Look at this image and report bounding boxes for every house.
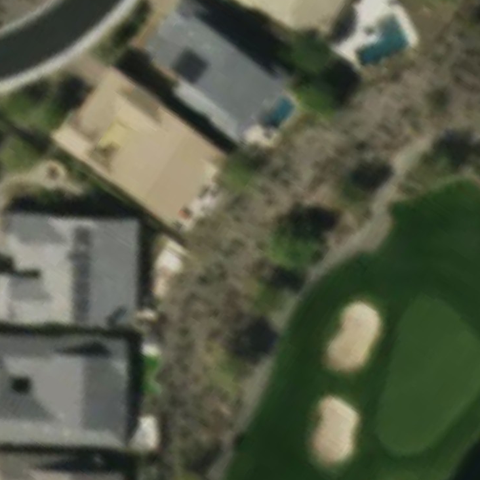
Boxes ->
[146,0,288,141]
[244,0,343,35]
[52,68,227,228]
[0,334,128,446]
[0,213,138,328]
[0,451,124,480]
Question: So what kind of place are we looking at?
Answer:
residential area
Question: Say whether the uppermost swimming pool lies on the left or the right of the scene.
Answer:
right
